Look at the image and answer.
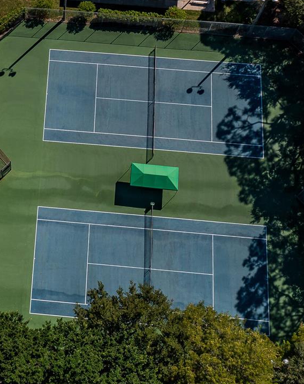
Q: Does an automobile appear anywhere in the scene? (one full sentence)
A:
No, I find no automobile anywhere in the image.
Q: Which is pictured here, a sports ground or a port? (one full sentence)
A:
This image shows a sports ground.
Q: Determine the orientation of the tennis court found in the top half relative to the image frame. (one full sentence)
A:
Seen from above, the tennis court found in the top half lies horizontally.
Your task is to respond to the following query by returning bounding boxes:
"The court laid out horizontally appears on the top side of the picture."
[43,49,263,158]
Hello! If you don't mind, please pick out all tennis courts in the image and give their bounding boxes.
[43,49,263,158]
[31,206,269,329]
